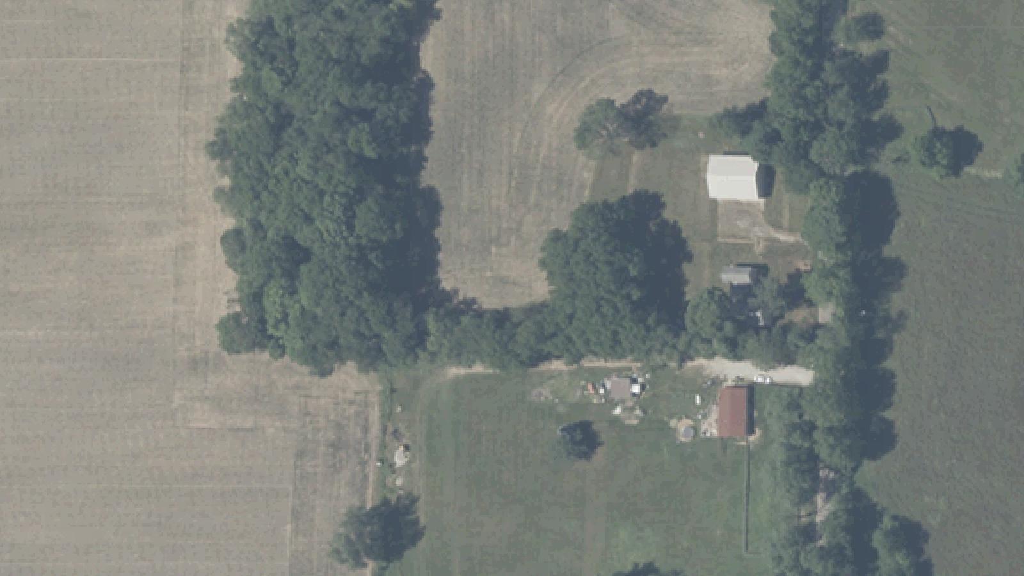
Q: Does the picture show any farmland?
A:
Yes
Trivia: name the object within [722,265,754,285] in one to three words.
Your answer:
shed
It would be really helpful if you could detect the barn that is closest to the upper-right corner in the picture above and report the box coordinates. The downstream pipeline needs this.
[708,153,761,201]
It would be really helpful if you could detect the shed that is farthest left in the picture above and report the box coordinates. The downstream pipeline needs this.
[611,378,631,397]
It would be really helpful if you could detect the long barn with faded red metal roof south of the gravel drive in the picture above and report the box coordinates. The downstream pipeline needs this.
[718,386,749,438]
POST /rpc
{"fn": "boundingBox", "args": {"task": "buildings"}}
[708,153,761,201]
[611,378,631,397]
[718,386,749,438]
[722,265,754,285]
